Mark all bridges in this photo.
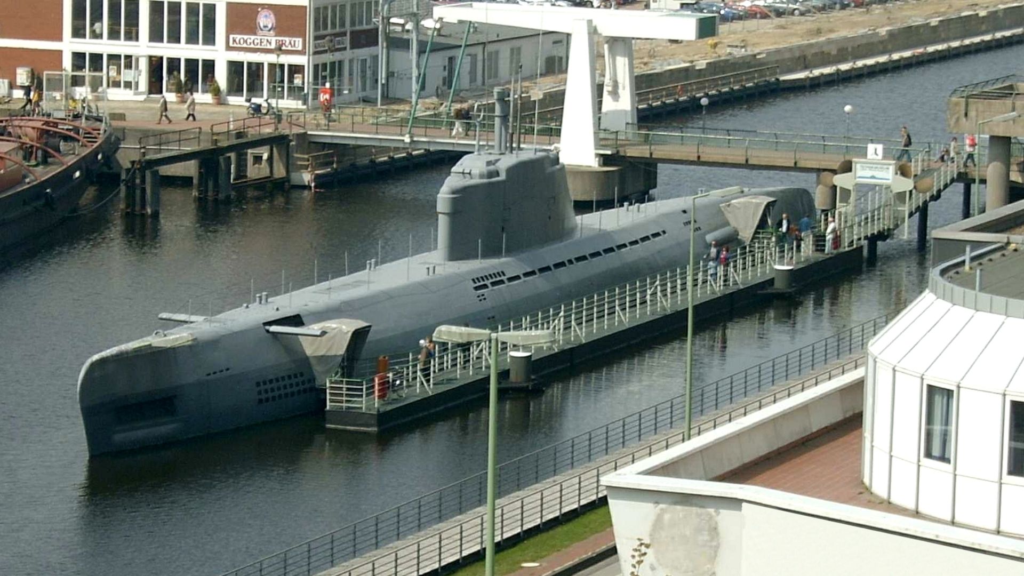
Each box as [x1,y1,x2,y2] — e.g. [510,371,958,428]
[301,0,1024,221]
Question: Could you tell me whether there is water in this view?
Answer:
Yes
